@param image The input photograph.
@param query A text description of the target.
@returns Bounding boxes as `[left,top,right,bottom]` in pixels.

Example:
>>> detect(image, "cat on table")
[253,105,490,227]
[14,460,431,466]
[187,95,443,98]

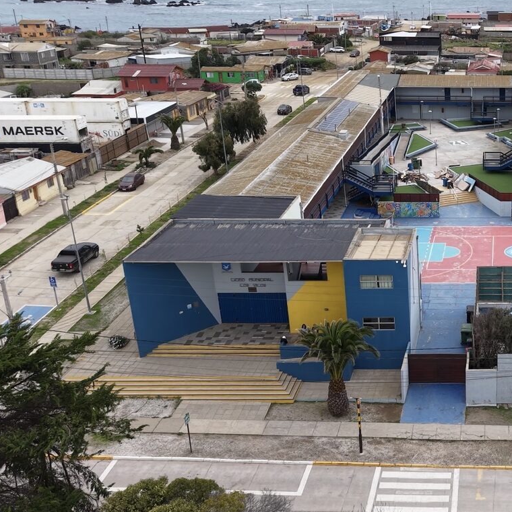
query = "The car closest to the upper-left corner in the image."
[119,170,146,187]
